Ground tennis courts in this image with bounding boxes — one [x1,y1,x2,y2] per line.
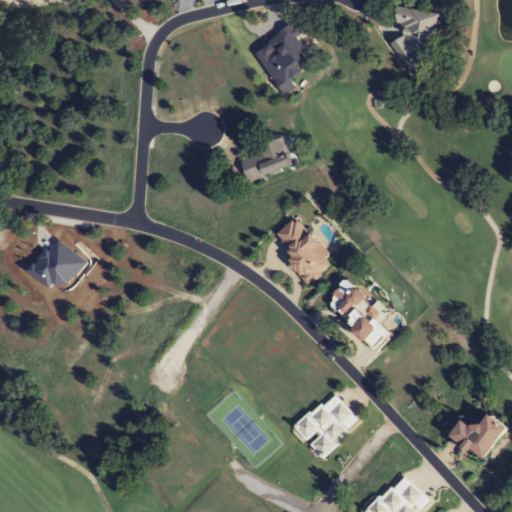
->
[208,391,284,468]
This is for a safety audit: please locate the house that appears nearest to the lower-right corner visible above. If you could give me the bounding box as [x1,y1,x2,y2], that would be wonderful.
[448,412,509,460]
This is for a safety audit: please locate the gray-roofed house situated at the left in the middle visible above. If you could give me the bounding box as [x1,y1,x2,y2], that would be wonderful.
[26,240,88,290]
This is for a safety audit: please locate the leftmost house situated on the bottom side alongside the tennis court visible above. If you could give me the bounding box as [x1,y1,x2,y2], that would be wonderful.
[292,395,360,459]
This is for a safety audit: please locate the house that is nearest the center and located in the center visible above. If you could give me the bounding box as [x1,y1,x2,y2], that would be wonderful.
[278,219,330,280]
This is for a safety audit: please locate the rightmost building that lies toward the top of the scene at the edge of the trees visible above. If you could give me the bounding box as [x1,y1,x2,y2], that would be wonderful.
[388,8,442,60]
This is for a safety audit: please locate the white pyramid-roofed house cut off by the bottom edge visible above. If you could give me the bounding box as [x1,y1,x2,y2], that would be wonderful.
[362,476,430,512]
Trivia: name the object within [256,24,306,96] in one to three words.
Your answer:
house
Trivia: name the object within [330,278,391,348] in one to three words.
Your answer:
house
